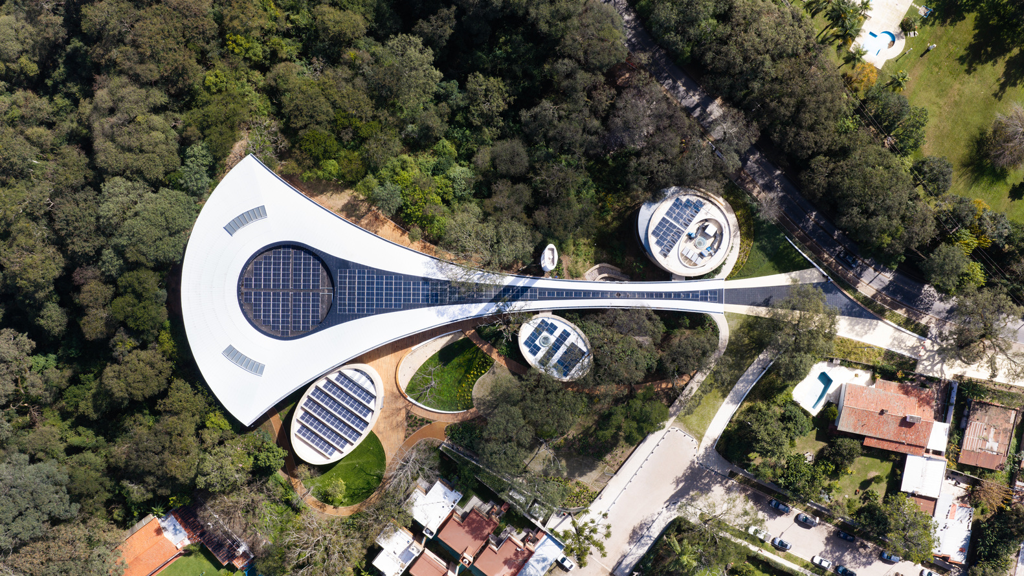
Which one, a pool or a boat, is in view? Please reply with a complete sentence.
The image shows a pool.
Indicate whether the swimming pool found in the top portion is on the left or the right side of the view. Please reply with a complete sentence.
The swimming pool found in the top portion is on the right side of the image.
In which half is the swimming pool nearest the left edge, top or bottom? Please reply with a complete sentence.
The swimming pool nearest the left edge is in the bottom half of the image.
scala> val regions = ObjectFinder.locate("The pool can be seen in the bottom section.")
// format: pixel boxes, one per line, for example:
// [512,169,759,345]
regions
[792,360,874,416]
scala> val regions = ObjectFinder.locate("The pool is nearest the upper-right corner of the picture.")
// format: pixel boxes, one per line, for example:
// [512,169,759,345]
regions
[847,0,912,71]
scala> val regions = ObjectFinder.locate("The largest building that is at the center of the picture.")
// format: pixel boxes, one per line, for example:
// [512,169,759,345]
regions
[181,153,725,428]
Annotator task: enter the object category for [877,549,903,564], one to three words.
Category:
vehicle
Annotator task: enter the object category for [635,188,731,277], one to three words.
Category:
building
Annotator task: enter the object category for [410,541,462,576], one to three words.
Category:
house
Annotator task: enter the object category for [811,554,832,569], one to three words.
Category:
car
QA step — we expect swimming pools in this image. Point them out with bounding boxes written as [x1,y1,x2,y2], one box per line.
[847,0,912,71]
[792,360,874,416]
